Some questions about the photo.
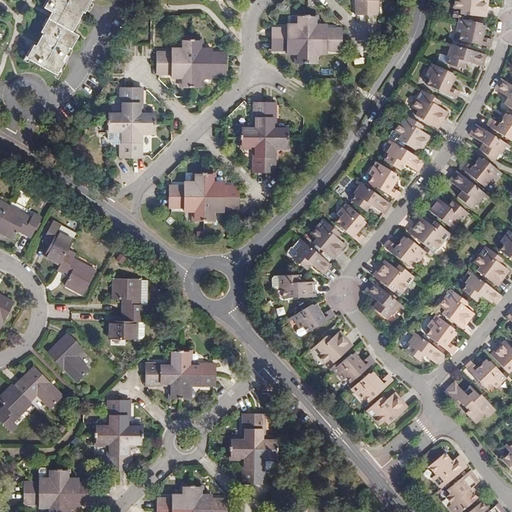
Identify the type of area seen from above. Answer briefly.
residential area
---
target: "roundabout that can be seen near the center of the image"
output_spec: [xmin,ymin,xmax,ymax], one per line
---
[181,248,246,322]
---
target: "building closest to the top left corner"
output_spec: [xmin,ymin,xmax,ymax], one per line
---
[24,0,96,76]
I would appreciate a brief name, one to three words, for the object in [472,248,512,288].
house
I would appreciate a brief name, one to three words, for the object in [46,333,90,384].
house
